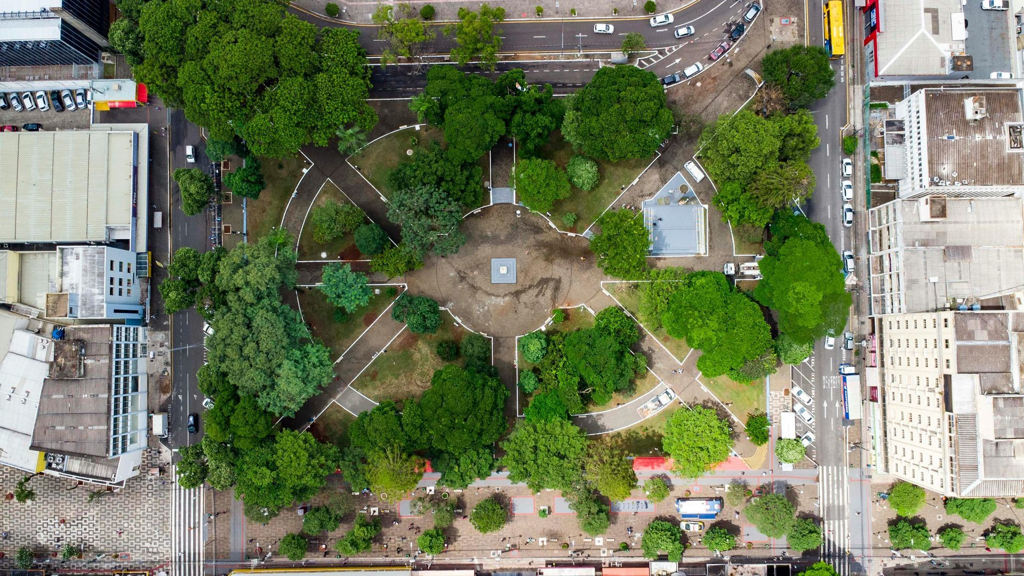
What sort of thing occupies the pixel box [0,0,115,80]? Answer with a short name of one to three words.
building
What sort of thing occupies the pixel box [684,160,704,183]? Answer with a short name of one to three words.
vehicle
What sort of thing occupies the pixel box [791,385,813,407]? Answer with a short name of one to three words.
car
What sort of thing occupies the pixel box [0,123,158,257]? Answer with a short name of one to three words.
warehouse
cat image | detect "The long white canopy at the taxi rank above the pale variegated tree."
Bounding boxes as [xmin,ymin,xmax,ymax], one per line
[779,411,795,439]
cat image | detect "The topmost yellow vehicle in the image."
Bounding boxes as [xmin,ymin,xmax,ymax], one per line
[825,0,845,60]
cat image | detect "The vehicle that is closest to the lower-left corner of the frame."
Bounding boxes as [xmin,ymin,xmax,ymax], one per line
[149,411,166,440]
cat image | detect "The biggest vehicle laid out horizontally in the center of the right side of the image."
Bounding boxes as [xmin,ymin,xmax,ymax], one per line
[724,261,765,278]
